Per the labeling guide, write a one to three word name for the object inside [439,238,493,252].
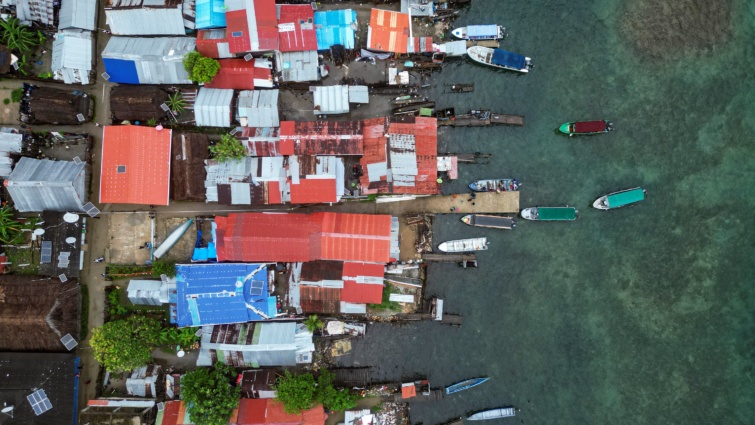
boat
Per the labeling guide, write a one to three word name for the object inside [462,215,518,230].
boat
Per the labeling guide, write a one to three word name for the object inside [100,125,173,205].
house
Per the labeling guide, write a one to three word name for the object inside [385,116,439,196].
house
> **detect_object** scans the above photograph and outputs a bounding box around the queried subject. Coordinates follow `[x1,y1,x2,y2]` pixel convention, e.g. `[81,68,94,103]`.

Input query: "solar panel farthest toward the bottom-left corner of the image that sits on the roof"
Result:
[27,390,52,415]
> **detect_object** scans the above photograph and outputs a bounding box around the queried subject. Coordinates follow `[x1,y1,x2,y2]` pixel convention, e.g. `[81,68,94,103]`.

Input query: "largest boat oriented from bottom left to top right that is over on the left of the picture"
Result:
[150,219,192,260]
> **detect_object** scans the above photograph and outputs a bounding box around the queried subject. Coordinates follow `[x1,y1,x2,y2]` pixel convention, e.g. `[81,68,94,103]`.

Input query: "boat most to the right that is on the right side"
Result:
[594,184,650,207]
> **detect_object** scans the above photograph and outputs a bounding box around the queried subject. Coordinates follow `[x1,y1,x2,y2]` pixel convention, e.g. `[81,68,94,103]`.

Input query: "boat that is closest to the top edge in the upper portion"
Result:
[451,21,507,38]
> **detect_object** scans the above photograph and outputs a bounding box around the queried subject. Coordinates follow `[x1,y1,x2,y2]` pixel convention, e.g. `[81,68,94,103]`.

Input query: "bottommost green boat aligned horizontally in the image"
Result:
[521,206,581,221]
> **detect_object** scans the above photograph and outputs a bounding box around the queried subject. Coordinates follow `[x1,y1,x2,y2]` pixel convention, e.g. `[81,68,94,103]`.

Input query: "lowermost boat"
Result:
[467,409,520,422]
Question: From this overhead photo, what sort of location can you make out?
residential area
